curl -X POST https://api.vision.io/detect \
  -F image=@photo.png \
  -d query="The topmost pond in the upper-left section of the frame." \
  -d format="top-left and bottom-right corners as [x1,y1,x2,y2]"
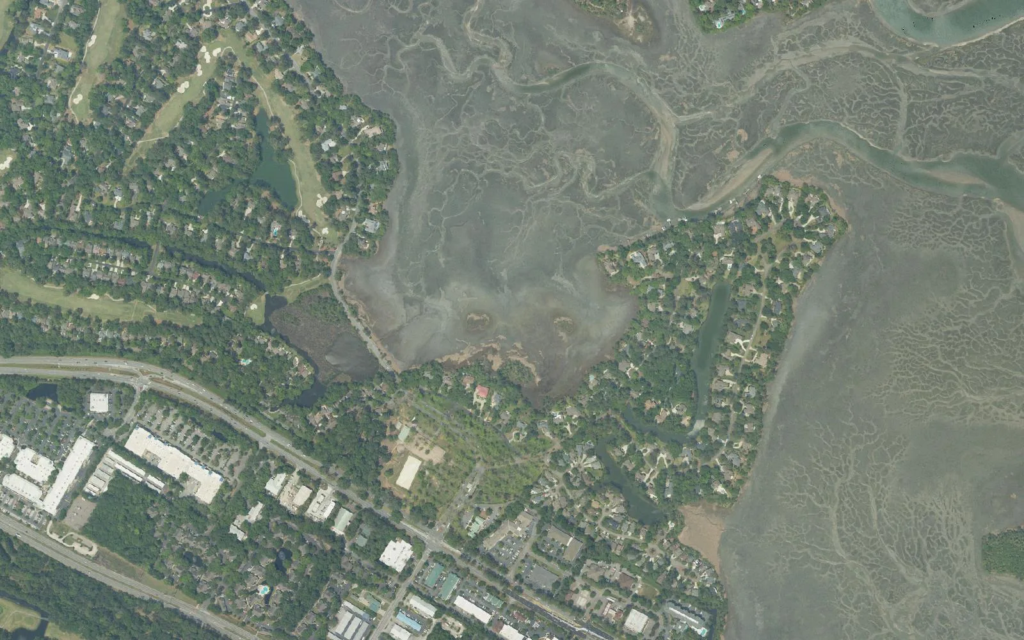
[200,111,298,215]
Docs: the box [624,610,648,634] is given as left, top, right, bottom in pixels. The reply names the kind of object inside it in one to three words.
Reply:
building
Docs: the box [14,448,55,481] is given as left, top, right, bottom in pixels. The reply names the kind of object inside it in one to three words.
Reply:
building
